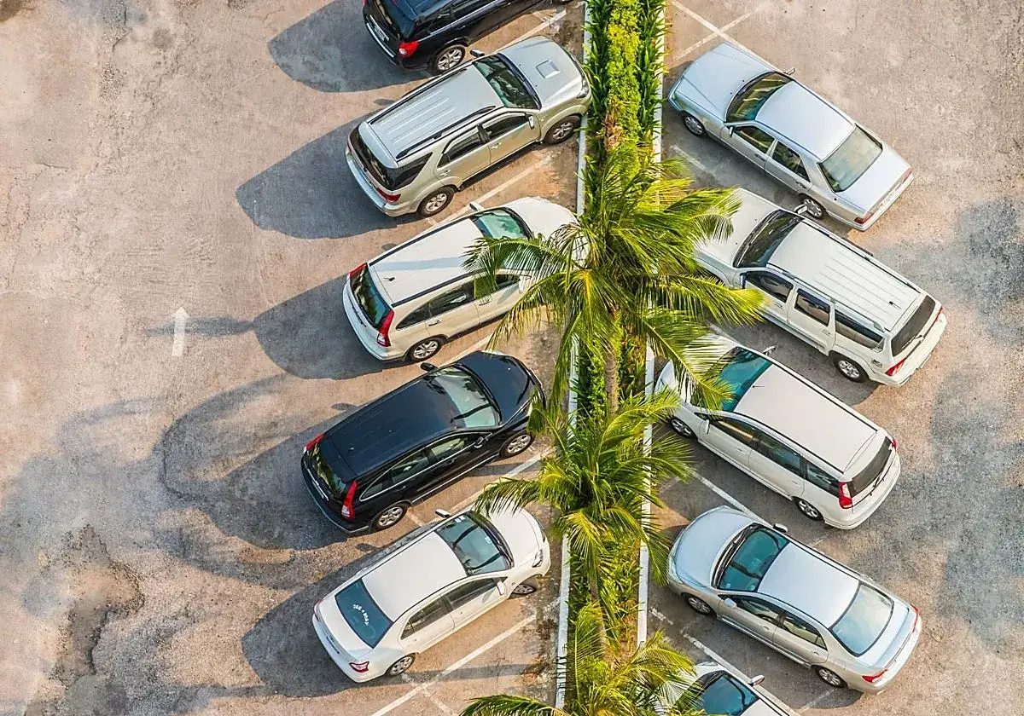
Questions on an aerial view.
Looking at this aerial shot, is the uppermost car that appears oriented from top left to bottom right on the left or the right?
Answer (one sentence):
It is on the right.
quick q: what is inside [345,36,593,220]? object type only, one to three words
car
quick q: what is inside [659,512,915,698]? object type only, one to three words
car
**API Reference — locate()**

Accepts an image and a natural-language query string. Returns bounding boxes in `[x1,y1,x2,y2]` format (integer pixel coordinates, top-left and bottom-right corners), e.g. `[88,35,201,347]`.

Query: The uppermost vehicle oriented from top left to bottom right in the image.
[663,45,908,239]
